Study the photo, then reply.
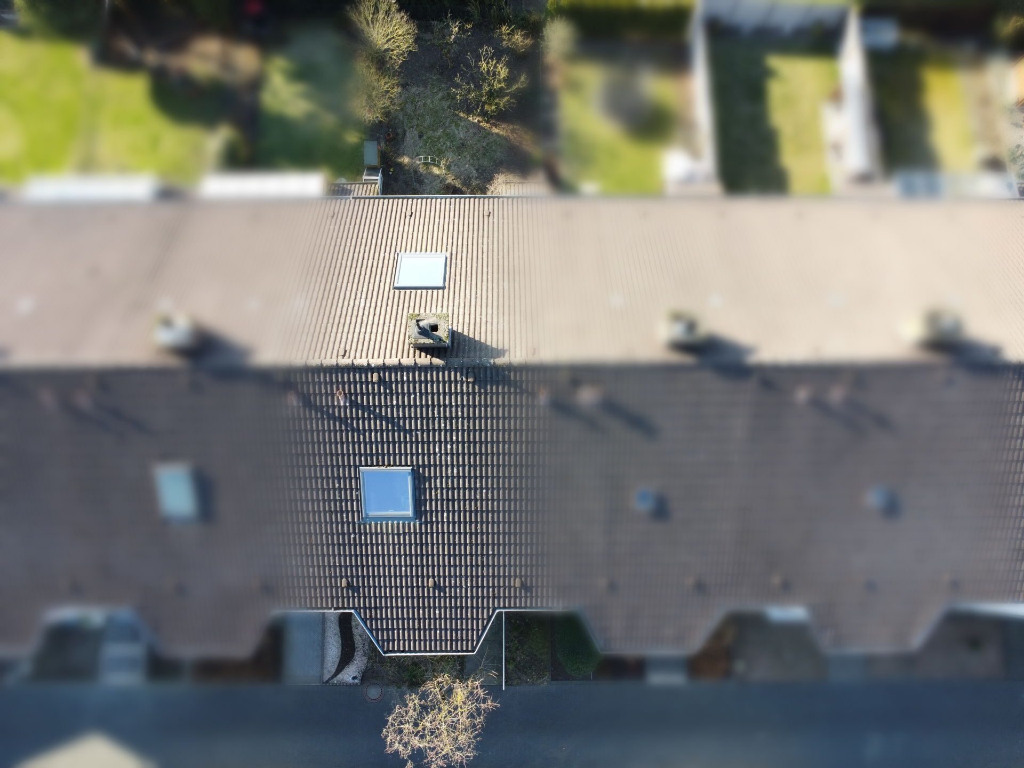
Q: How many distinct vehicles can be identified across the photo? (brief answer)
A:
none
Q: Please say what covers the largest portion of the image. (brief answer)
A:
buildings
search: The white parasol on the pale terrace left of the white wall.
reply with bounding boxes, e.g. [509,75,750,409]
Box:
[658,143,702,193]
